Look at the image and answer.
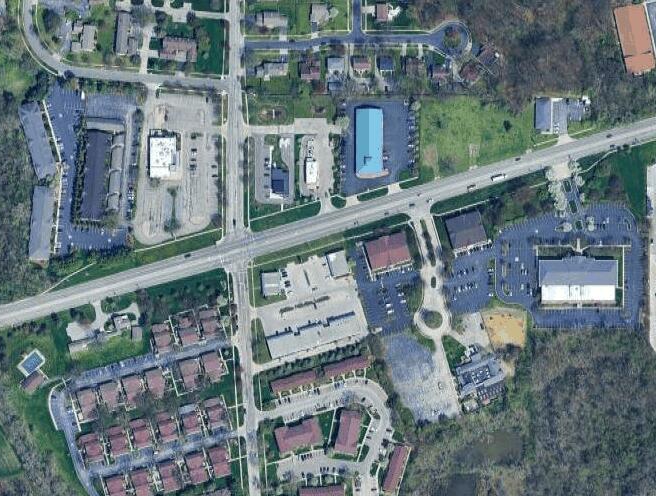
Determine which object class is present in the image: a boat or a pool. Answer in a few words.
pool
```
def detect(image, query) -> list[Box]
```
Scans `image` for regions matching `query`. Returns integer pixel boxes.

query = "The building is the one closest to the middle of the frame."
[328,251,351,278]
